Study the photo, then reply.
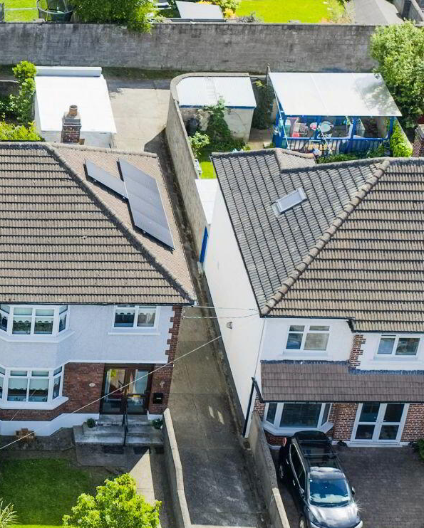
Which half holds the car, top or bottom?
bottom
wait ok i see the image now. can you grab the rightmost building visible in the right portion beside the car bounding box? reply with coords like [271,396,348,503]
[198,145,424,457]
